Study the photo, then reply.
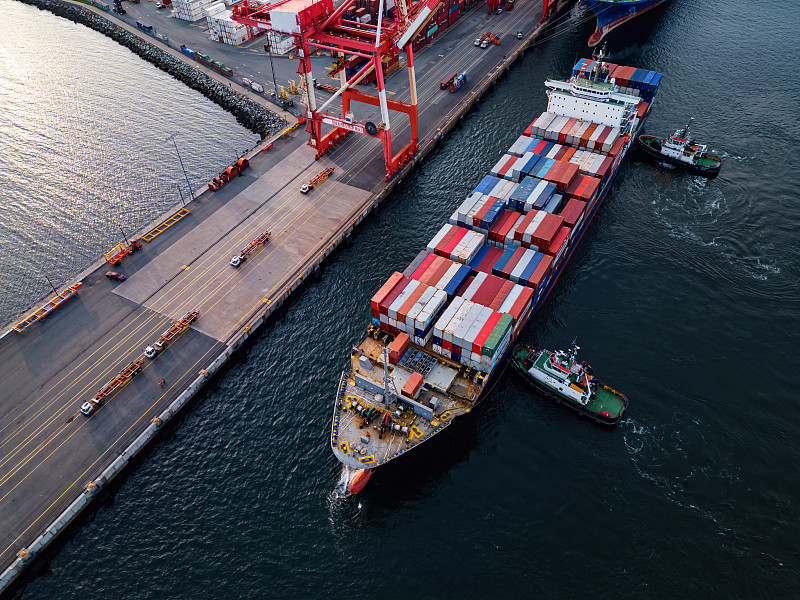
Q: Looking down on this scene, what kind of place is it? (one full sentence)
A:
This looks like a port.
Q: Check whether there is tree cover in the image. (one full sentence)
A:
No, the picture contains no tree cover.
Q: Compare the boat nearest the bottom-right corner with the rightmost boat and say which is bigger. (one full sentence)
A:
Compared with the rightmost boat, the boat nearest the bottom-right corner is the larger one.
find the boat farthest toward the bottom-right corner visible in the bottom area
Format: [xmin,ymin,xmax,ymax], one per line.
[509,339,635,426]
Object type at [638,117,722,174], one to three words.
boat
